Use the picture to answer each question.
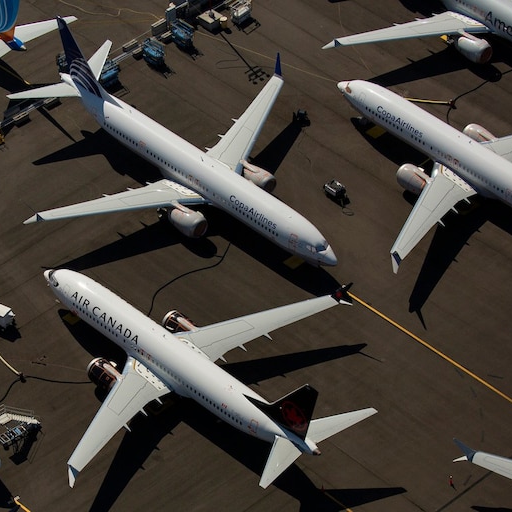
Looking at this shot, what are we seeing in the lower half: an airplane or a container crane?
airplane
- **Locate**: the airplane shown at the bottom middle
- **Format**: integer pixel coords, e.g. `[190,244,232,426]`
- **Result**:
[44,269,377,488]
